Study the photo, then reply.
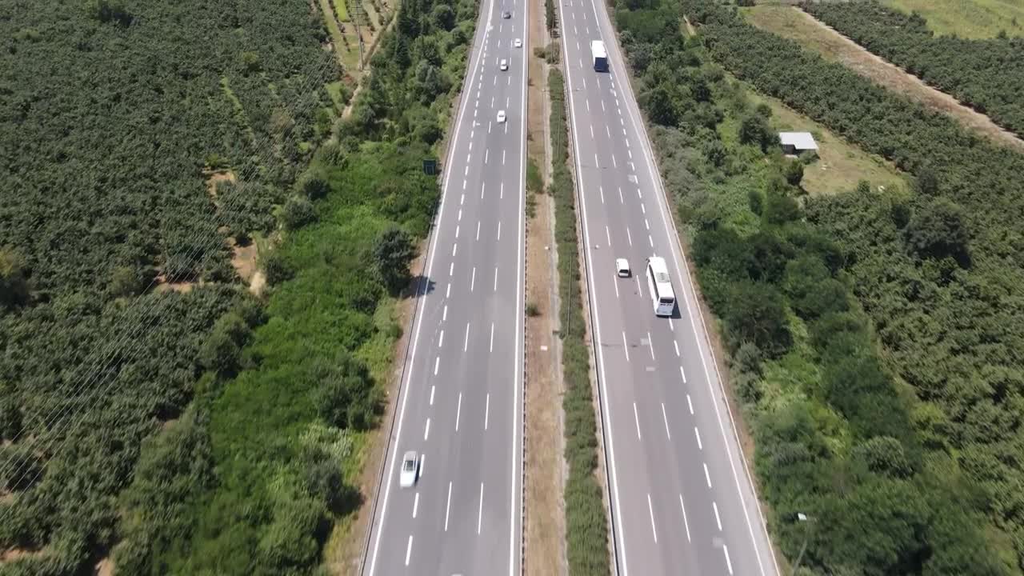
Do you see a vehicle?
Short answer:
Yes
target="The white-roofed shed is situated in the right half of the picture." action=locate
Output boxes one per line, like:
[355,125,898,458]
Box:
[779,129,818,158]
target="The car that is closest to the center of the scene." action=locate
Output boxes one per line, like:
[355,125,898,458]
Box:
[617,260,630,276]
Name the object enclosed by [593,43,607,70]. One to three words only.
vehicle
